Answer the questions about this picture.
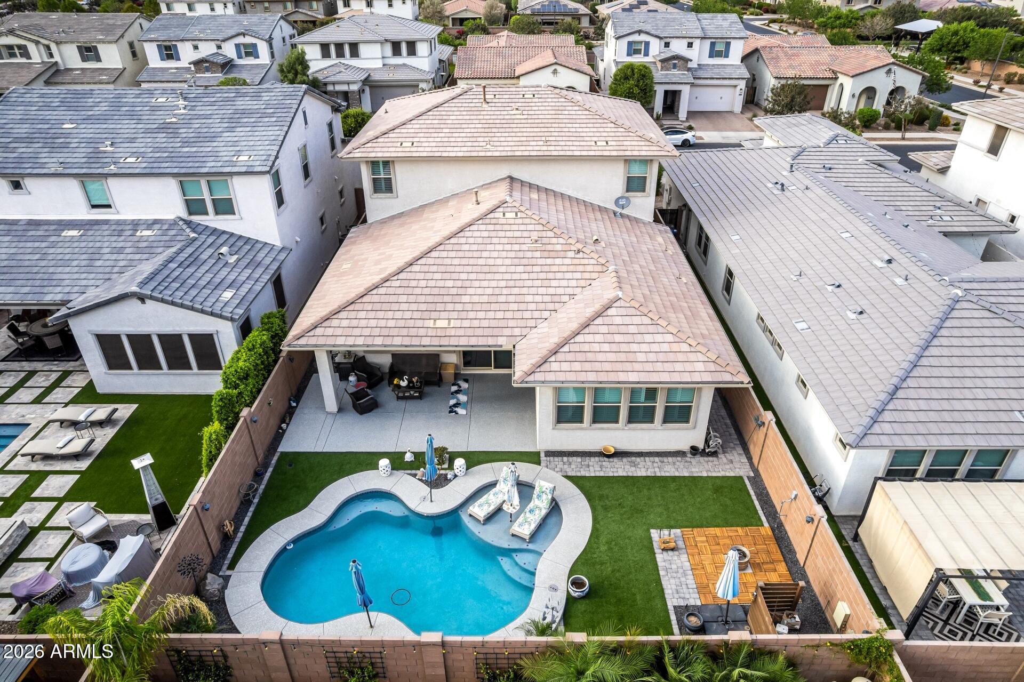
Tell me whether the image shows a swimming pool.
Yes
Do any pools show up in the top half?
No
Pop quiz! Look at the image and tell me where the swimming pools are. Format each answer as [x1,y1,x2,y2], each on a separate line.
[262,483,563,634]
[0,423,31,453]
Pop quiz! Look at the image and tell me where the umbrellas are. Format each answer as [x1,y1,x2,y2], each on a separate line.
[501,459,520,510]
[716,543,744,614]
[421,433,438,502]
[350,559,375,629]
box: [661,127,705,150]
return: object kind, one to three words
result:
car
